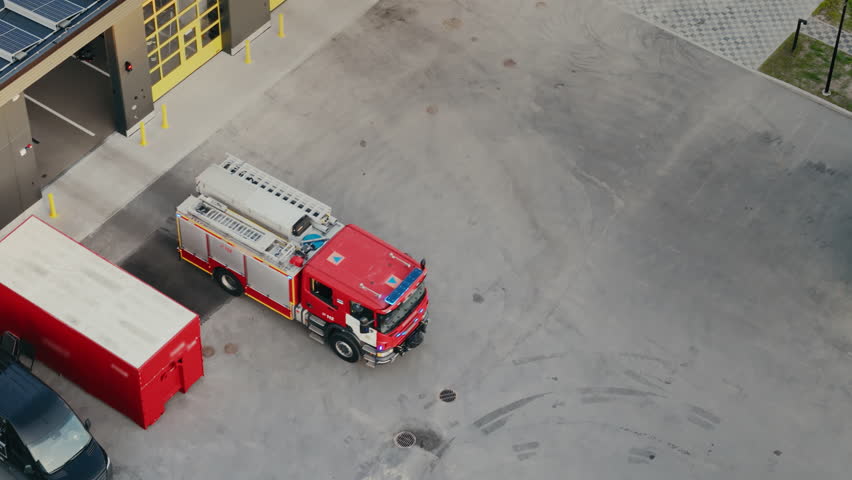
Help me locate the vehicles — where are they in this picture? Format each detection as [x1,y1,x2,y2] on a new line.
[0,346,115,480]
[176,156,434,374]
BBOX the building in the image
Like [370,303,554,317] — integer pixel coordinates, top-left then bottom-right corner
[0,0,285,233]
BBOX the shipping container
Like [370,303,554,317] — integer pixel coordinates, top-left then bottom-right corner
[0,216,205,428]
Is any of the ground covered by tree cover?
No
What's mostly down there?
paved ground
